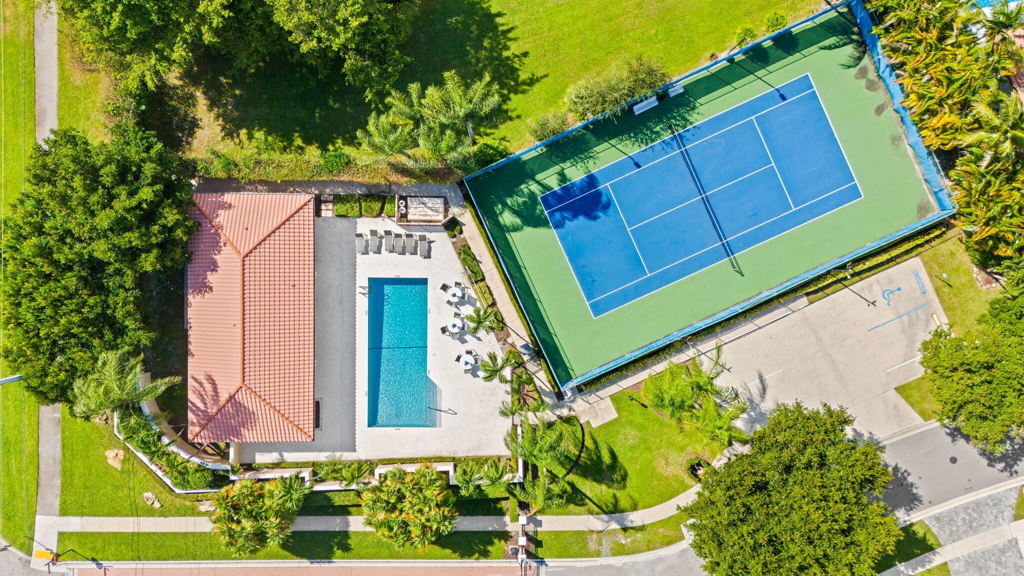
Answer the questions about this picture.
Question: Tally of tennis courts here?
1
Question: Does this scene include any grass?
Yes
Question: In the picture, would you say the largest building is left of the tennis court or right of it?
to its left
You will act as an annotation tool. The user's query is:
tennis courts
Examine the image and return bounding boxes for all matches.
[469,13,936,385]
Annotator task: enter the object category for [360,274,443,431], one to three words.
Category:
swimming pool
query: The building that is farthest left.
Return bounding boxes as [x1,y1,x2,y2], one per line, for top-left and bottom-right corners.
[187,192,318,443]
